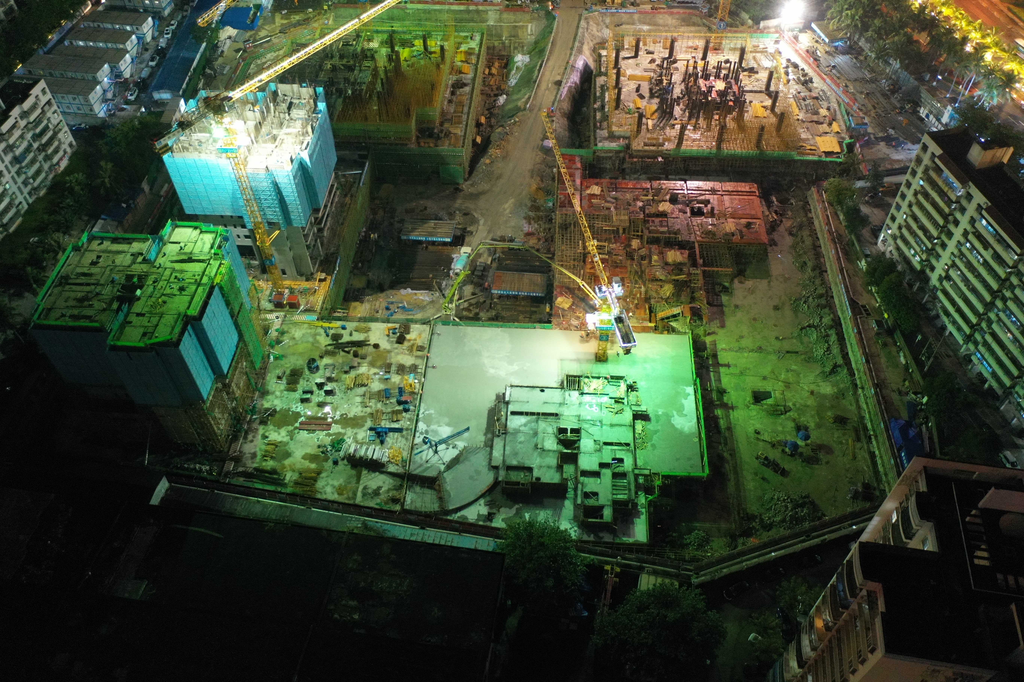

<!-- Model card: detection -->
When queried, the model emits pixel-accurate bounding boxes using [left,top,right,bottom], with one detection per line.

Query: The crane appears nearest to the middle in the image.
[544,117,643,385]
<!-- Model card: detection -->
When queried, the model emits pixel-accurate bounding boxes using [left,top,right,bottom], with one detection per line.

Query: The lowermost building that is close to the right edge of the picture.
[762,453,1024,682]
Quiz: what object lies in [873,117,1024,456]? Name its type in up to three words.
building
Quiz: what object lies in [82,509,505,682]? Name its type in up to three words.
building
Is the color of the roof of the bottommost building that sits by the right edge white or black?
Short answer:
black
